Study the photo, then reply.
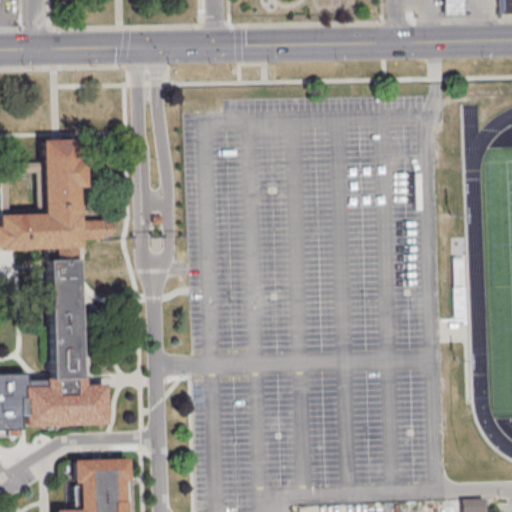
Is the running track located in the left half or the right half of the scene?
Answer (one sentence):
You can find the running track on the right side of the picture.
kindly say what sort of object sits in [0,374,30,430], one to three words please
building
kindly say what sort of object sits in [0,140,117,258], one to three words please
building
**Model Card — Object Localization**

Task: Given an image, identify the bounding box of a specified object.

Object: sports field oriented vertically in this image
[482,147,512,418]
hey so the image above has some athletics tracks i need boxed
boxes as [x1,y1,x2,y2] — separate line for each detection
[459,105,512,464]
